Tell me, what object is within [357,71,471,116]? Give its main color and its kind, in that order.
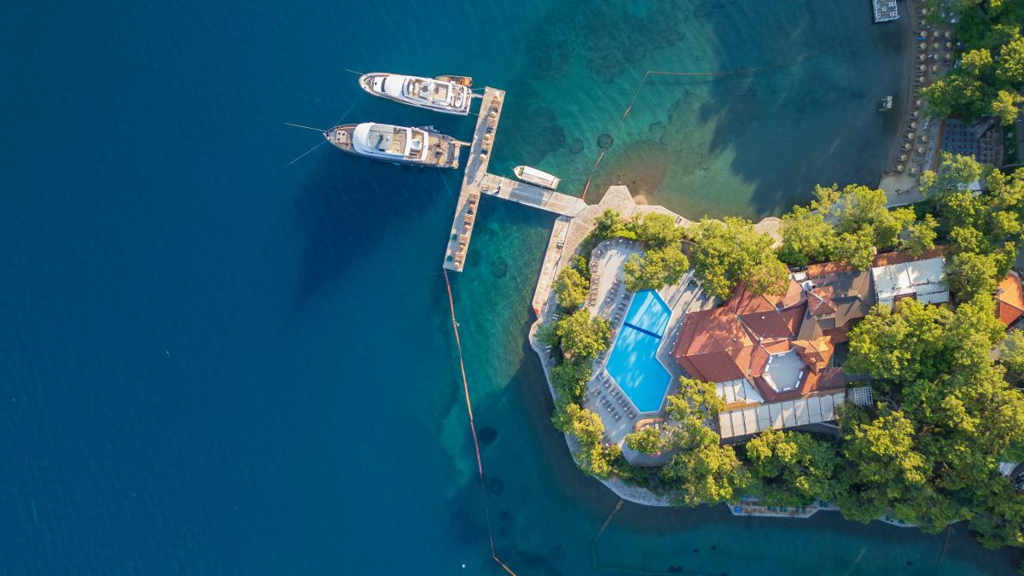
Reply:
white boat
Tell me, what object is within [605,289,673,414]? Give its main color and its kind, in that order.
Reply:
blue swimming pool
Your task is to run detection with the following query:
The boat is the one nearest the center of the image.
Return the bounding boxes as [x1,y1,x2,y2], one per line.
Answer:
[513,165,560,189]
